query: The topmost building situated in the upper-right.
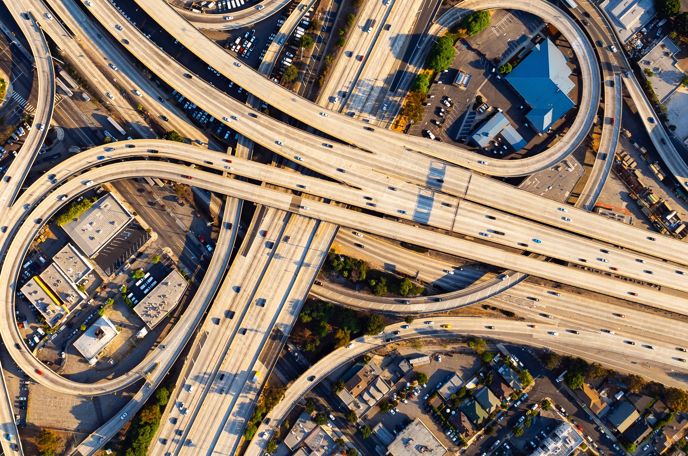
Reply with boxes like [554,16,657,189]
[596,0,656,45]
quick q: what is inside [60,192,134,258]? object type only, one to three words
building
